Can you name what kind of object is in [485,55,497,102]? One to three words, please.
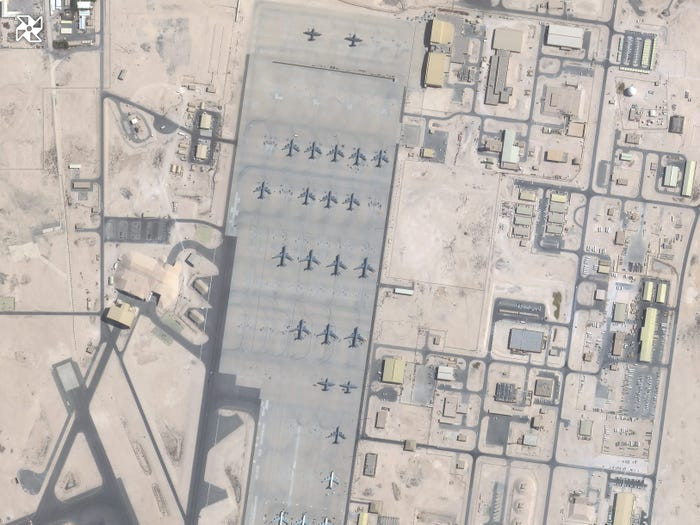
shed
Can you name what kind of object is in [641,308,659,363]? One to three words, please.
building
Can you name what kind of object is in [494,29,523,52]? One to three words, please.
building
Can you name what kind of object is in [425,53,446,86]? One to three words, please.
hangar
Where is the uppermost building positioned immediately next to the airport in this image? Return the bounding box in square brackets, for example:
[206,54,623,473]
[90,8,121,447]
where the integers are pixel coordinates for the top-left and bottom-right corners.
[431,19,455,44]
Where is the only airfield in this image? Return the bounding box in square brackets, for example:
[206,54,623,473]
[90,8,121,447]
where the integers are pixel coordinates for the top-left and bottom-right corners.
[6,0,424,525]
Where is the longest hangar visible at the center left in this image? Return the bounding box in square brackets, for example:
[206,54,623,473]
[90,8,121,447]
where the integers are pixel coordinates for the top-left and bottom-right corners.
[107,305,135,326]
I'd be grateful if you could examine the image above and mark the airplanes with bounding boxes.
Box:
[317,378,335,391]
[317,324,337,345]
[354,258,375,279]
[304,142,321,159]
[345,327,364,348]
[371,150,388,167]
[349,148,366,165]
[253,182,271,200]
[328,427,345,444]
[297,187,314,206]
[299,250,320,271]
[326,255,347,276]
[342,193,360,211]
[304,28,321,41]
[282,139,299,157]
[290,319,310,341]
[345,33,362,46]
[272,246,293,267]
[323,472,340,489]
[273,512,290,525]
[294,514,310,525]
[340,381,358,394]
[319,191,337,208]
[326,145,344,163]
